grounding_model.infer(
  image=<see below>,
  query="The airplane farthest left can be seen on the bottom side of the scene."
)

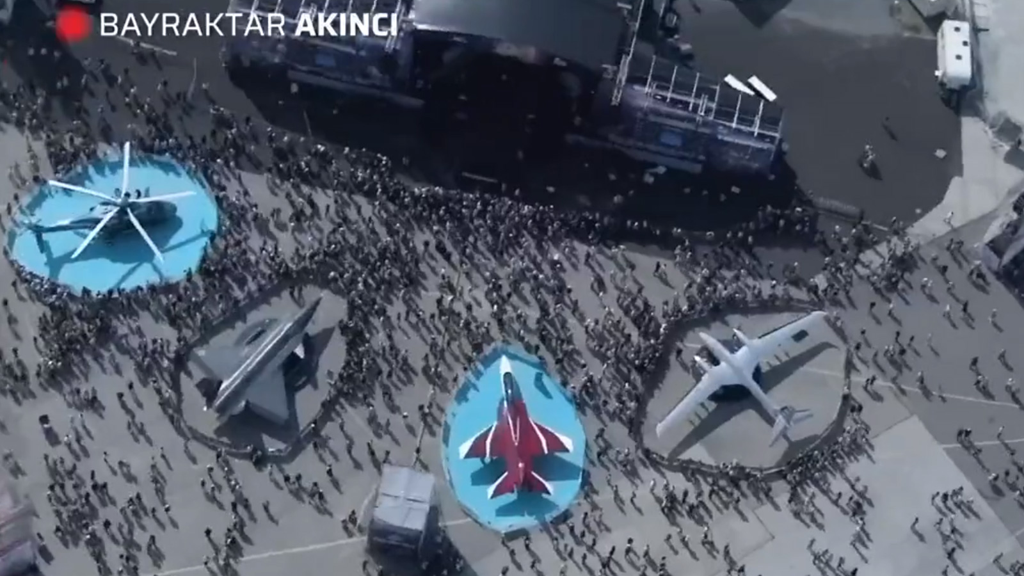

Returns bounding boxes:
[189,297,322,426]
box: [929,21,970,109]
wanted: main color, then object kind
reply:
white camper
